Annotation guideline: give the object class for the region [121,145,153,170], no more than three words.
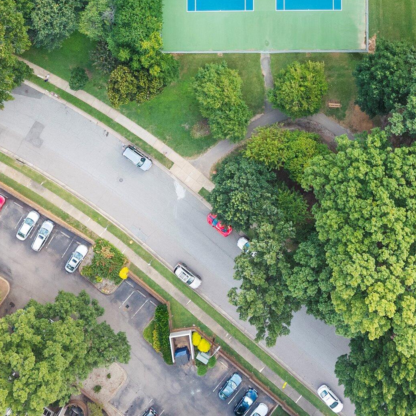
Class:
vehicle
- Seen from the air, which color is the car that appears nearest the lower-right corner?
white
